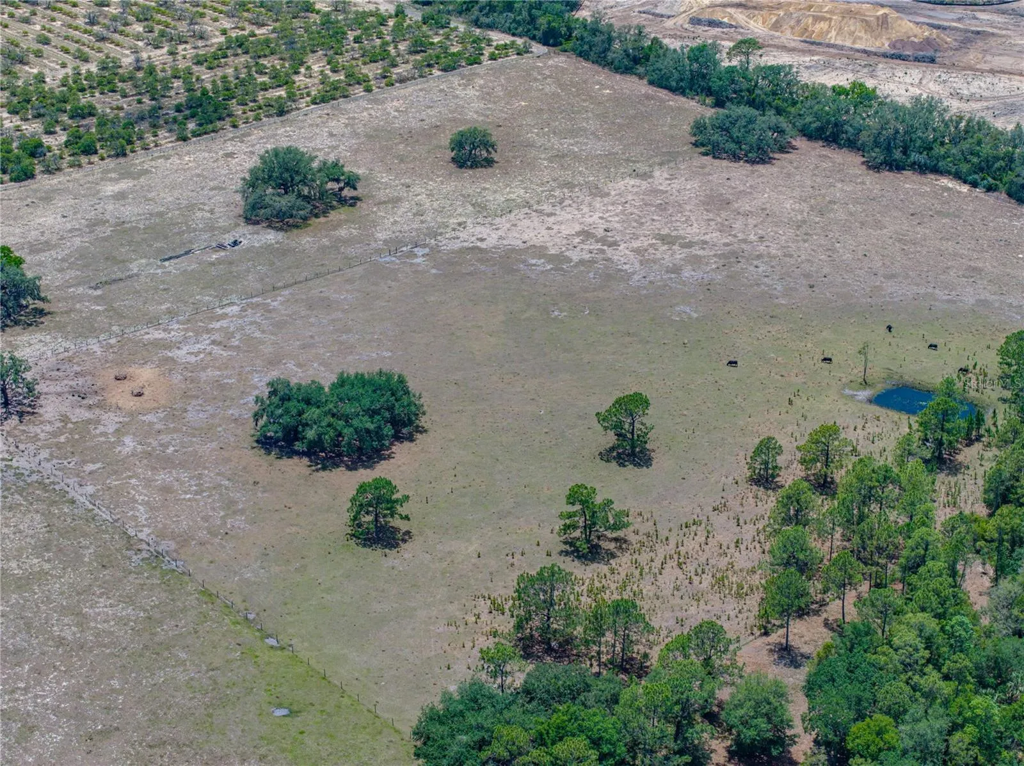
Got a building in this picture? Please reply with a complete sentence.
No, the picture doesn't show any building.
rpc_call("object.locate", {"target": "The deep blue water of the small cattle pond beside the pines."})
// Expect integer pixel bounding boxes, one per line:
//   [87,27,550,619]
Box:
[873,387,985,425]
